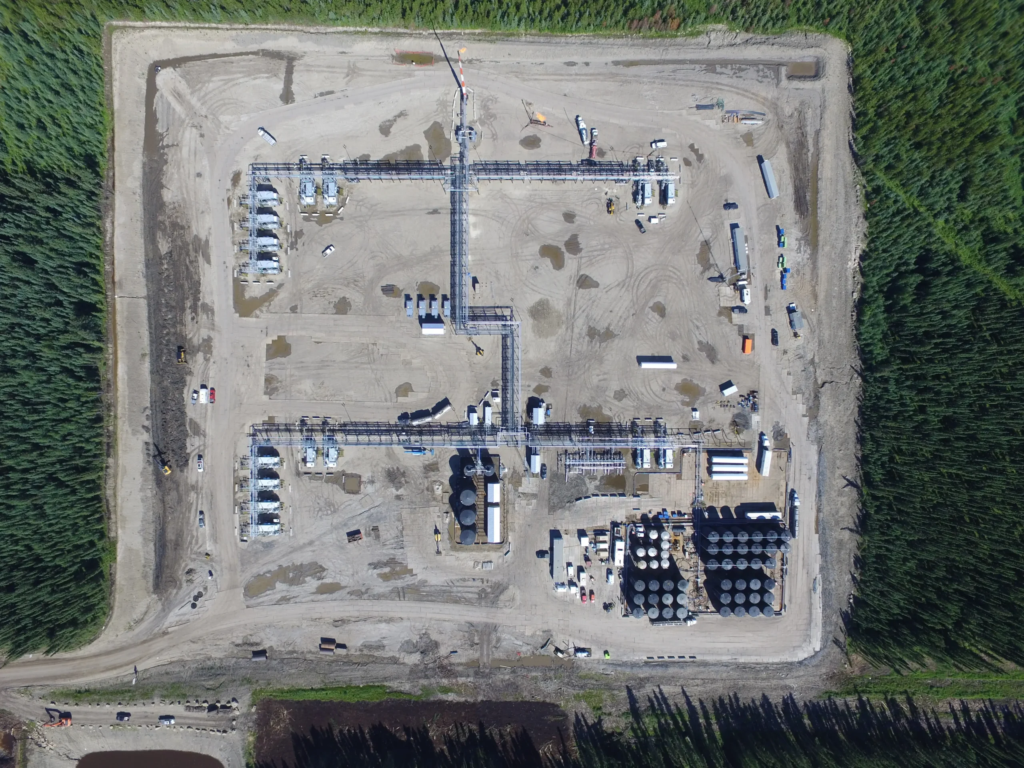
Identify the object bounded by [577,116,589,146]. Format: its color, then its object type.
white vehicle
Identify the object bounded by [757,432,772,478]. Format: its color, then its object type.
white vehicle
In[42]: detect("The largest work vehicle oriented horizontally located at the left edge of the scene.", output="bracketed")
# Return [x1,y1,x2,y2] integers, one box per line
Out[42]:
[44,717,73,730]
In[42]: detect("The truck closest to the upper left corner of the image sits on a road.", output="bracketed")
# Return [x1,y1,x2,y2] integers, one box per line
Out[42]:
[256,126,277,147]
